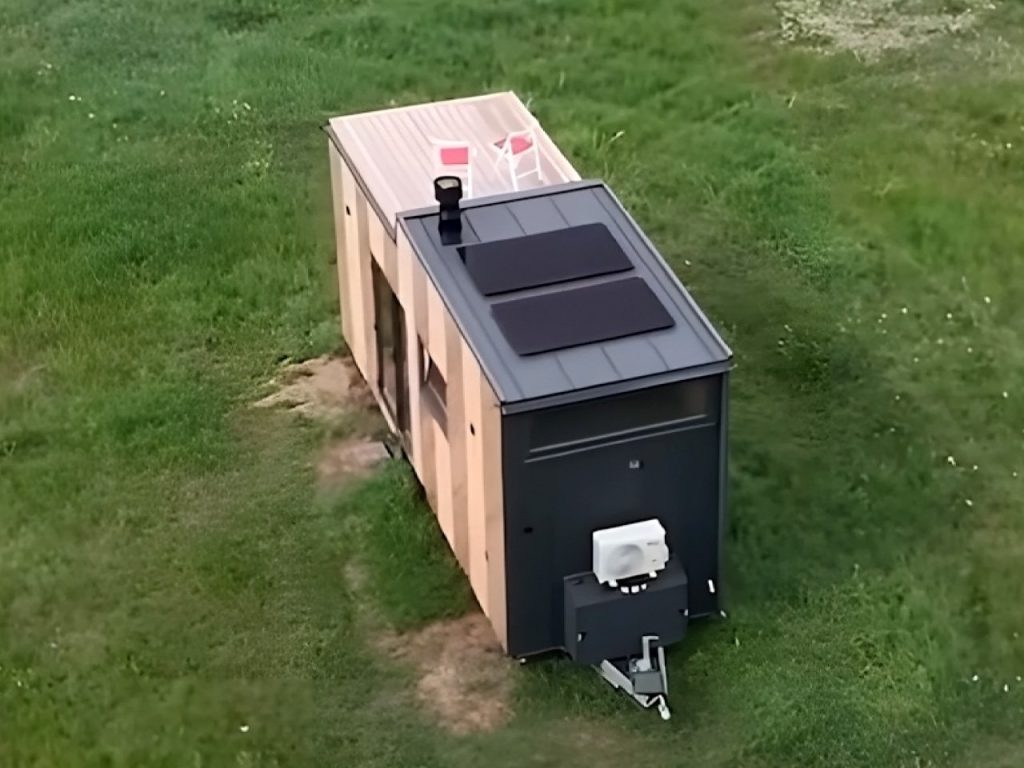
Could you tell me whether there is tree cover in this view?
No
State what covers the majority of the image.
grass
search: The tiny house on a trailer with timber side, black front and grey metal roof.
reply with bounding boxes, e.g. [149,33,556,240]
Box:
[324,93,741,721]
